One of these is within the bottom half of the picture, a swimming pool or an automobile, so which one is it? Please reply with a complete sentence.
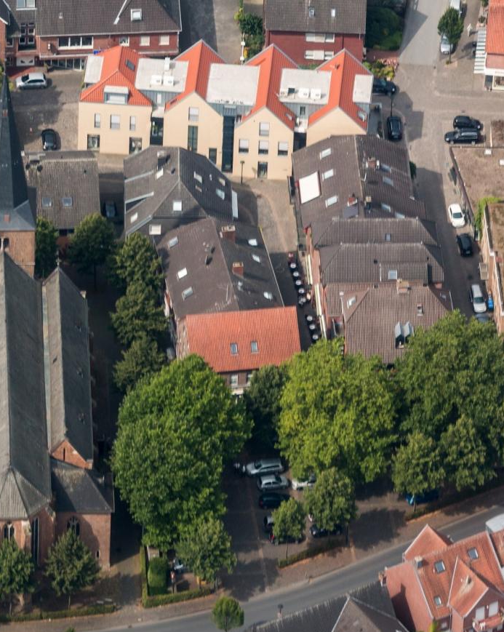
You can see an automobile within the bottom half of the picture.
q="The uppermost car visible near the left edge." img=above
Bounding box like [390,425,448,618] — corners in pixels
[15,73,49,89]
